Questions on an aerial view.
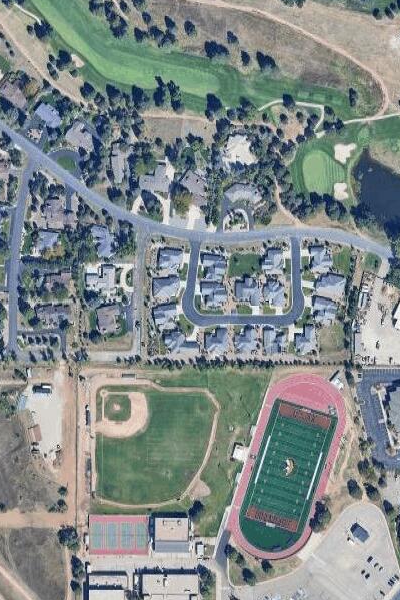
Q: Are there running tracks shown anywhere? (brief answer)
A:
Yes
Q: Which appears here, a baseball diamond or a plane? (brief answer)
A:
baseball diamond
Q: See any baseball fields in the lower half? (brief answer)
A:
Yes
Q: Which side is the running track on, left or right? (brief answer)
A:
right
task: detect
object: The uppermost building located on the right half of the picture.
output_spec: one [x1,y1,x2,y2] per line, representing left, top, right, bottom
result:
[222,132,258,164]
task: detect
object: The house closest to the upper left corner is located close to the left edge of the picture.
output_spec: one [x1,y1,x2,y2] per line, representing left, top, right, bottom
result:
[0,80,30,111]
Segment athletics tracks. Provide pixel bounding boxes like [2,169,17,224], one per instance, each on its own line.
[230,373,346,561]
